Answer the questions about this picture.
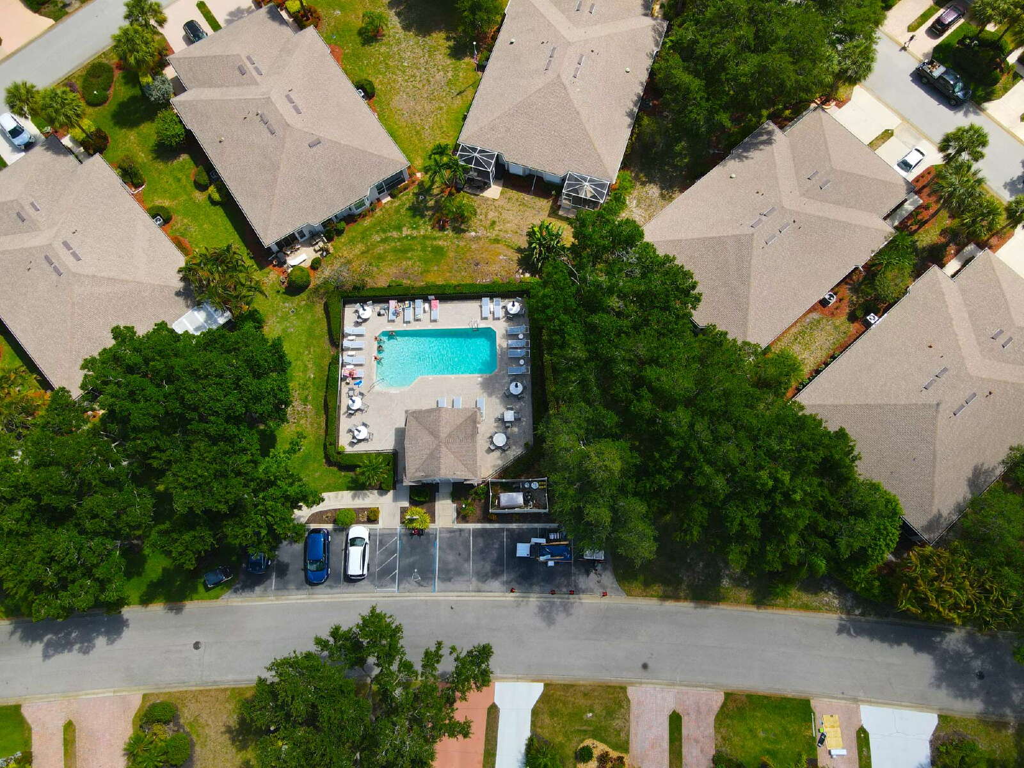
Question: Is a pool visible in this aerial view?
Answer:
Yes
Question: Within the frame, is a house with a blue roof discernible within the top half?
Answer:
No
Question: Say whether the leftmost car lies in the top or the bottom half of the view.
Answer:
top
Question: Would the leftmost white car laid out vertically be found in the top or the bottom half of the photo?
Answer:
bottom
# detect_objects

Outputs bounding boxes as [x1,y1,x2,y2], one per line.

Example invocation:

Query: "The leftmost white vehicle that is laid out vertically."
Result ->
[344,525,370,580]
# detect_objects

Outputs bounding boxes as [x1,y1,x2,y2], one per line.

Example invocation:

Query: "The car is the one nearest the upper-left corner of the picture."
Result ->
[0,111,33,150]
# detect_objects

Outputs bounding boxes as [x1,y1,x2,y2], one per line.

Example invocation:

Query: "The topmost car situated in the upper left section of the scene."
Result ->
[183,19,207,46]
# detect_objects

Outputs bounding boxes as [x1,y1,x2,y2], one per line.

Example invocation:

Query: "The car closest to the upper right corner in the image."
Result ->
[933,0,972,33]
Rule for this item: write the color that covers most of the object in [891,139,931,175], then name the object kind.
white car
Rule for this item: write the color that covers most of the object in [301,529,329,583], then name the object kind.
blue car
